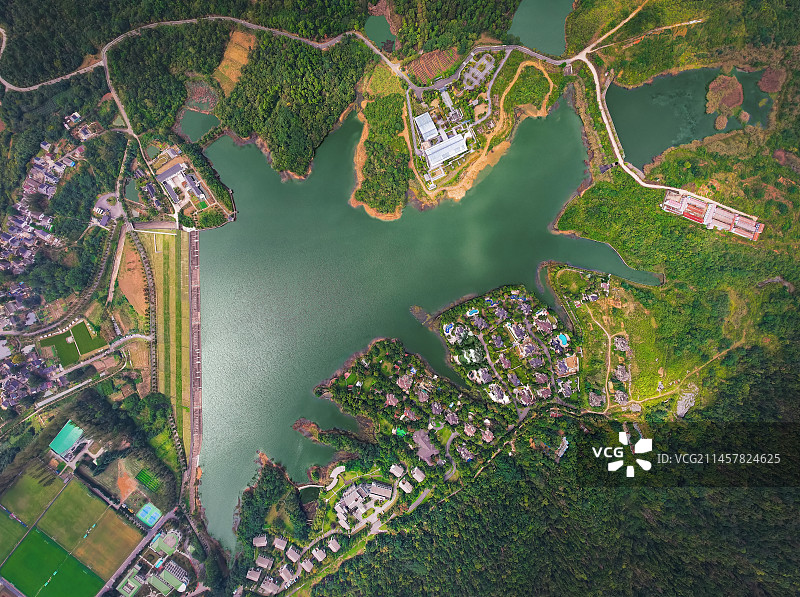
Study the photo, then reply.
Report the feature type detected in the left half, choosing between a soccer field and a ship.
soccer field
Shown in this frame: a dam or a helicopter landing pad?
dam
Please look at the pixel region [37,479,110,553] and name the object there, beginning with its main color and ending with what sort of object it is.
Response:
green soccer field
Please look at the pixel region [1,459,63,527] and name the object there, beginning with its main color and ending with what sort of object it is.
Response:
green soccer field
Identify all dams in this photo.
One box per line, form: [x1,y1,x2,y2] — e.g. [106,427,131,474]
[136,230,202,512]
